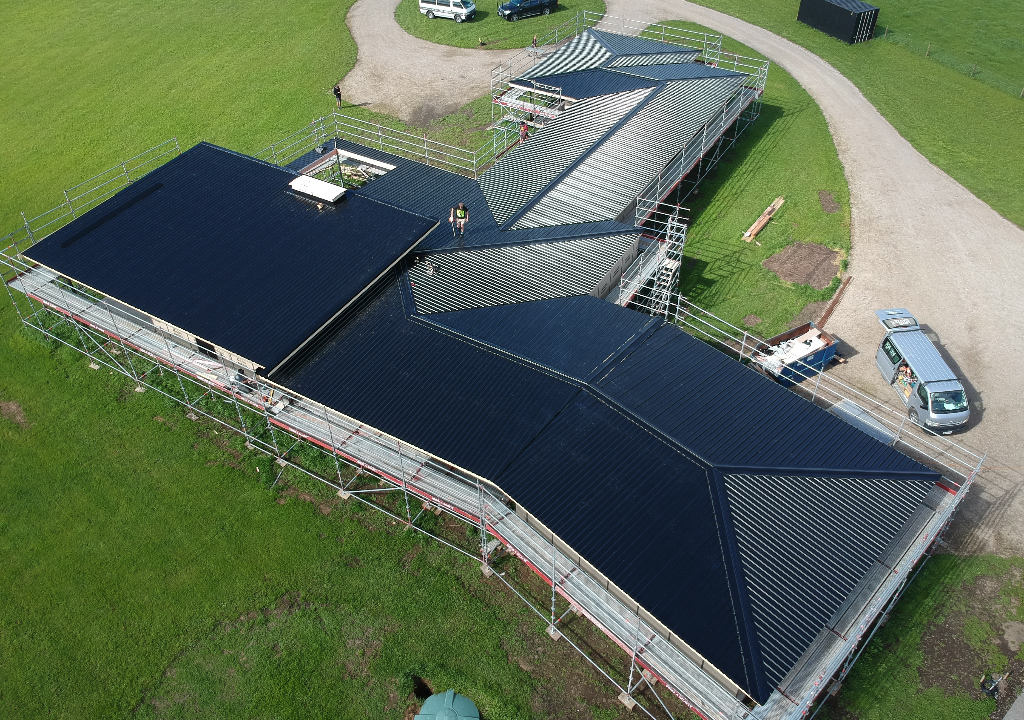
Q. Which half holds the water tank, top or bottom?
bottom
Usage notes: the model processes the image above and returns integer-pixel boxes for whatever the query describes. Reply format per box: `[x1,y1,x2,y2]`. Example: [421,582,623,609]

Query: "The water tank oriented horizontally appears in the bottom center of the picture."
[414,688,481,720]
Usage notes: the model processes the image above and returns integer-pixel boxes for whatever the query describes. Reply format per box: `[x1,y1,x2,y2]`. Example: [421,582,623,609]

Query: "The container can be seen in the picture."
[798,0,880,43]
